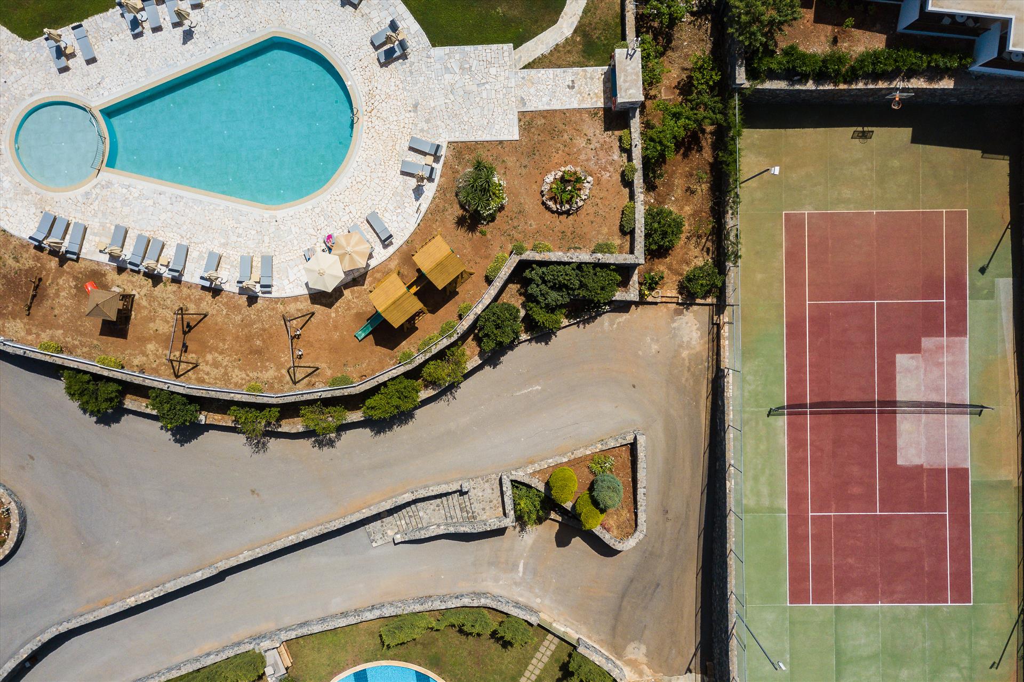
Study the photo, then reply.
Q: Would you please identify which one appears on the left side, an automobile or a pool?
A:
pool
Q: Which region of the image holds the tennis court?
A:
right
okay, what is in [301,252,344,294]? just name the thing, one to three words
umbrella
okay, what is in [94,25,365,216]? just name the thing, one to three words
swimming pool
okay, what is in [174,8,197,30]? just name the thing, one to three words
umbrella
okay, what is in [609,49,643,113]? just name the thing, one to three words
shed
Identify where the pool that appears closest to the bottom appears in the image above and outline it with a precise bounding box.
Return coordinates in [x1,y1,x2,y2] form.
[325,661,450,682]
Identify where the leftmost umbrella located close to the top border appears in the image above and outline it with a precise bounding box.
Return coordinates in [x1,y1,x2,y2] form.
[44,28,72,48]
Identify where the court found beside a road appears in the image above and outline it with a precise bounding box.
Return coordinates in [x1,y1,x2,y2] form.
[721,104,1024,682]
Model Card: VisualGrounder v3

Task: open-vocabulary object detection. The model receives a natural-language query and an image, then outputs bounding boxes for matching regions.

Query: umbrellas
[45,238,68,254]
[142,259,168,274]
[414,168,428,186]
[240,279,261,296]
[301,252,344,294]
[383,29,399,45]
[174,8,197,30]
[44,28,72,48]
[106,246,130,262]
[122,0,148,21]
[328,230,372,272]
